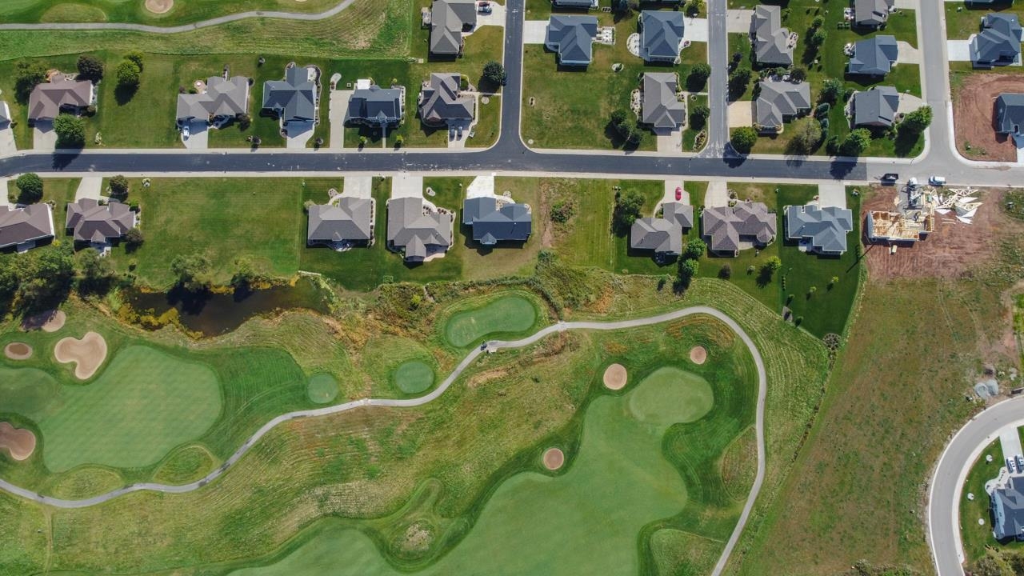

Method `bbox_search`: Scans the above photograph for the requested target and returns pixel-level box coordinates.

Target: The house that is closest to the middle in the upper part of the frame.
[463,196,532,244]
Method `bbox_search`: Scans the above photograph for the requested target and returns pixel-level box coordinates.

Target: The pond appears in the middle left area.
[123,279,336,337]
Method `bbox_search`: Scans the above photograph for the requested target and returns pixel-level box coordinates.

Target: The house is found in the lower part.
[991,474,1024,542]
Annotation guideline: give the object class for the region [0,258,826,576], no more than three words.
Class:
golf course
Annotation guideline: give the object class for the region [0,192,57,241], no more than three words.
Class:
house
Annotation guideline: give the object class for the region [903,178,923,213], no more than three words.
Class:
vehicle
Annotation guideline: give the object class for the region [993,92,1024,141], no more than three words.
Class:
house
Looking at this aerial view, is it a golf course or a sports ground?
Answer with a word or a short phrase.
golf course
